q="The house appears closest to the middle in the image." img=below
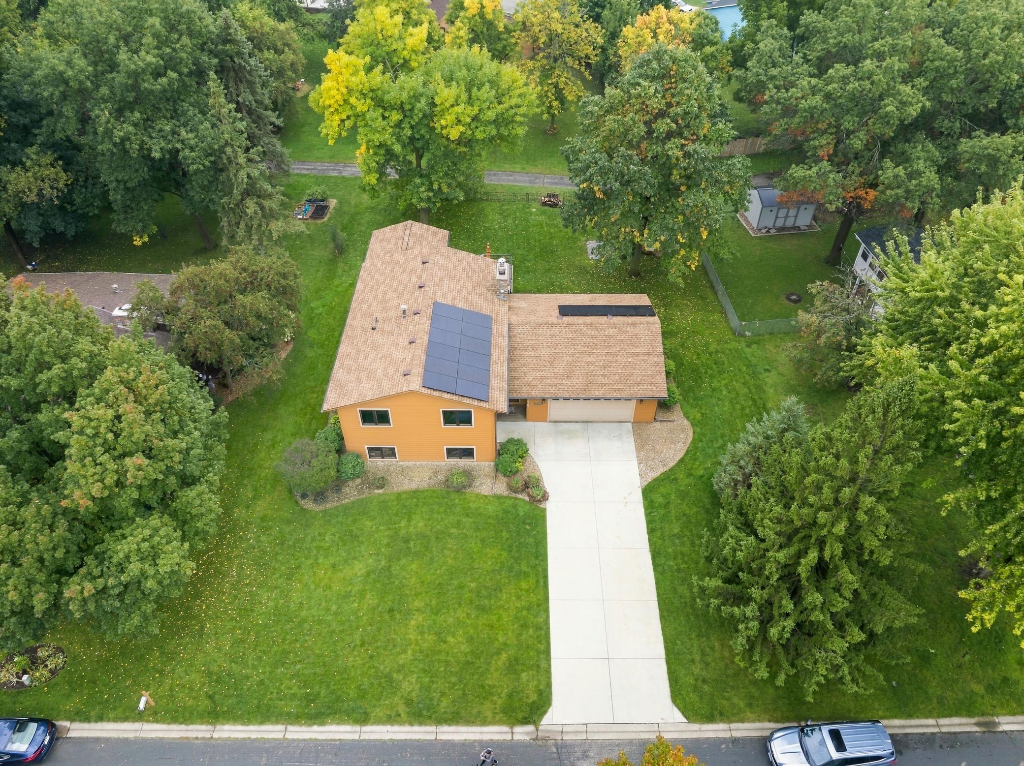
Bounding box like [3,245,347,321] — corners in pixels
[319,221,675,462]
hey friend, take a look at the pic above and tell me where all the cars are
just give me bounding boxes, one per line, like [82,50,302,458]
[0,718,64,766]
[760,718,896,766]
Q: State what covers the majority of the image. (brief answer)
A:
trees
